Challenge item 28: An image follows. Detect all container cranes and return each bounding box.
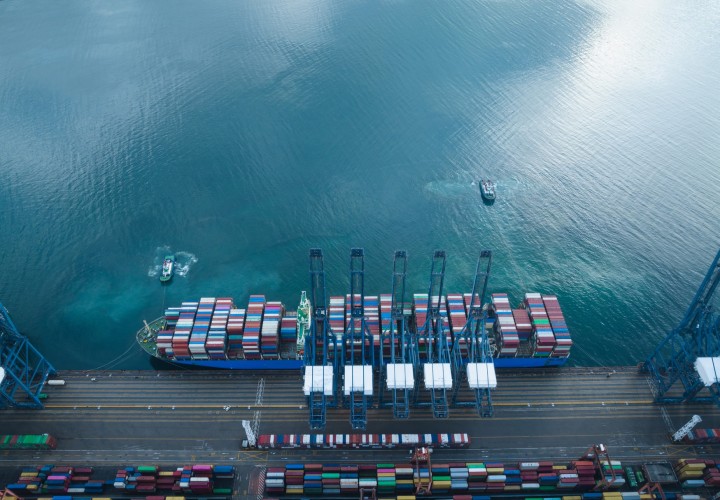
[340,250,378,429]
[379,250,416,418]
[631,481,669,500]
[301,250,343,429]
[453,248,500,418]
[413,249,455,418]
[410,448,432,500]
[0,282,61,407]
[643,252,720,409]
[581,444,622,493]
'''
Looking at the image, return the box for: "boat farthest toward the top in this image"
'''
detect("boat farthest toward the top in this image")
[480,183,496,203]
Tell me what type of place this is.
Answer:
port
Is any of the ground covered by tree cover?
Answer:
No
